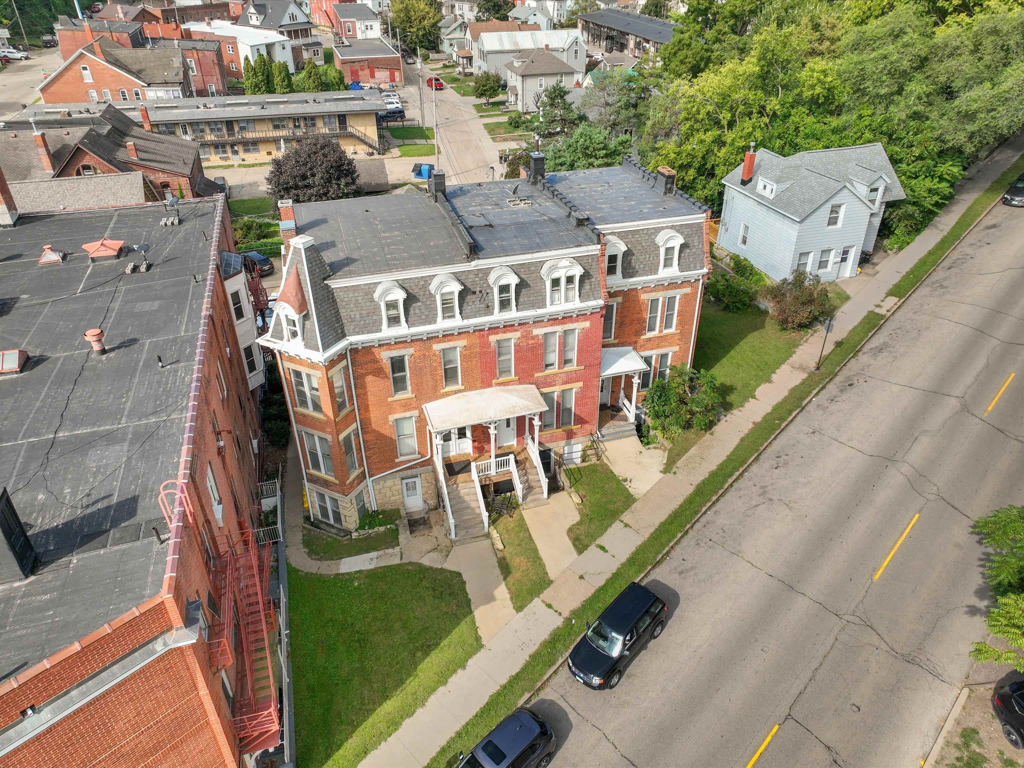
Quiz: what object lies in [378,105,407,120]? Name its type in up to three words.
car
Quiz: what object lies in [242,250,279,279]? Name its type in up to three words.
car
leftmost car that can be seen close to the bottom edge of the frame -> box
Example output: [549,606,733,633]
[448,696,557,768]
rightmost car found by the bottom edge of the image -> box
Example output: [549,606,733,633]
[992,680,1024,758]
